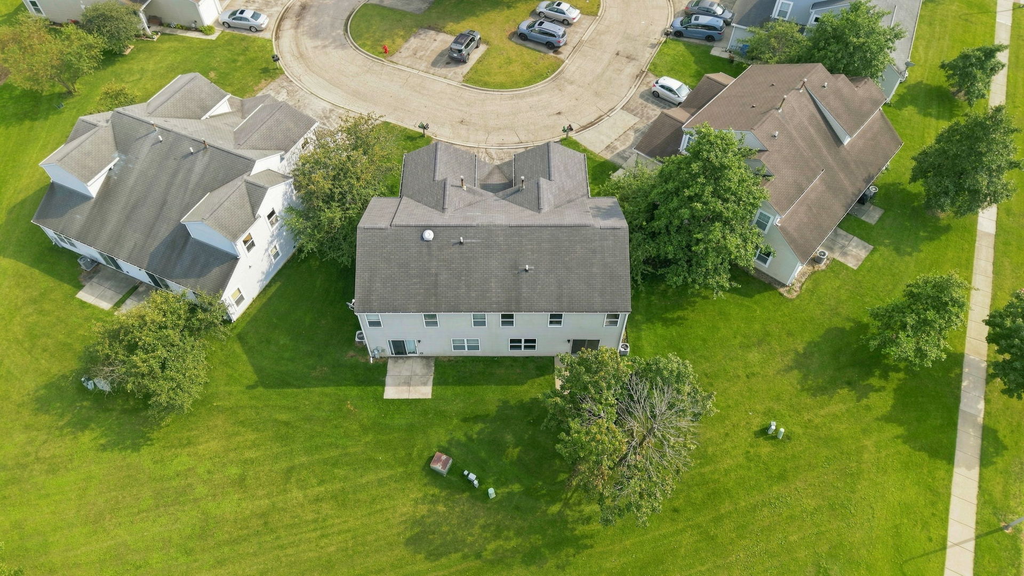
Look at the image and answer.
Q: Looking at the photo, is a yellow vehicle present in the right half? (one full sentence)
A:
No, no yellow vehicle can be made out in the right half.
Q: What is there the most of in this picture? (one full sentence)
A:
For the most part, this view shows grass.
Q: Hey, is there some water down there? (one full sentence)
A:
No, water can't be seen anywhere here.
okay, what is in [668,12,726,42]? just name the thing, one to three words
car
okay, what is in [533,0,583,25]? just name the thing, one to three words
car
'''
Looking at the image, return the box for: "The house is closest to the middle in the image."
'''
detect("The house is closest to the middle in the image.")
[342,140,633,364]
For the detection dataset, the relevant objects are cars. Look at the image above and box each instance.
[647,72,694,105]
[446,31,482,65]
[668,12,726,42]
[690,0,736,25]
[216,6,268,31]
[533,0,583,25]
[515,17,569,50]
